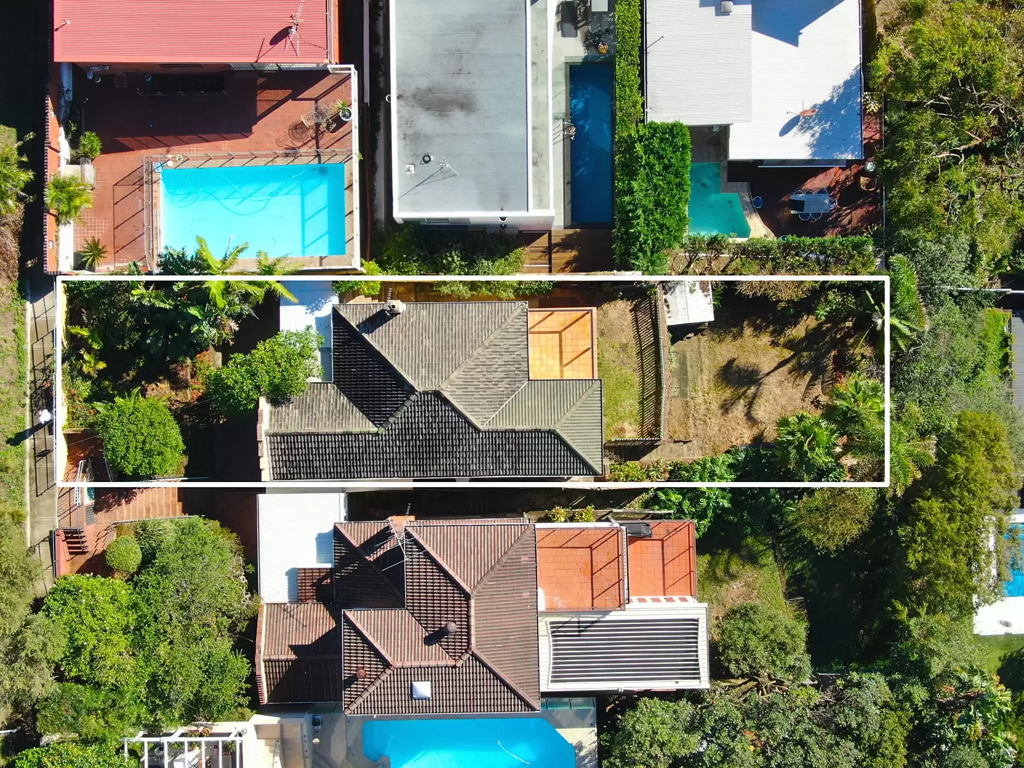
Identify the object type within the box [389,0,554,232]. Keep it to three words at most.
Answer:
house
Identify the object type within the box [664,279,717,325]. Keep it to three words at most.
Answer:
shed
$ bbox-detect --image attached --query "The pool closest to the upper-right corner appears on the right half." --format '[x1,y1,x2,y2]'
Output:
[684,160,773,240]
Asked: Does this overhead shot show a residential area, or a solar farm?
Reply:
residential area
